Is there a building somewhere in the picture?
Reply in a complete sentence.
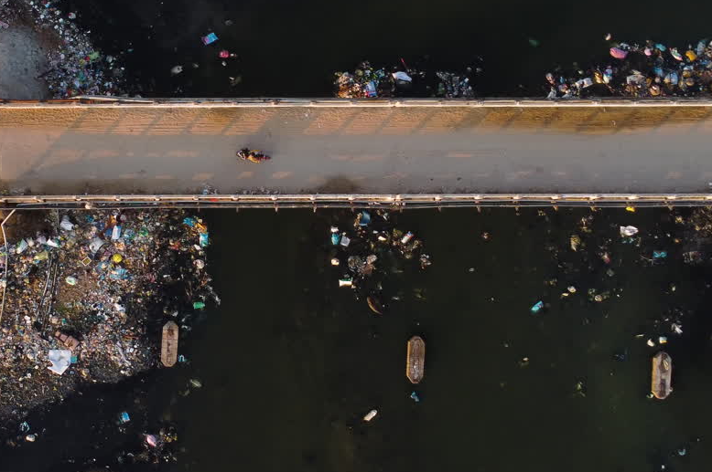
No, there isn't any building down there.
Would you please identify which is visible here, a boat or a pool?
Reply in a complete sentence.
I can see a boat in this picture.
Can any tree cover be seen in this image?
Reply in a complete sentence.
No, there is no tree cover in the image.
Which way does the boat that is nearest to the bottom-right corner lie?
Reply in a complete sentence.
The boat that is nearest to the bottom-right corner runs from top to bottom in the image.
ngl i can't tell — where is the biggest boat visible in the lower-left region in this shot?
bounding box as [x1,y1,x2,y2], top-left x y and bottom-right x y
[161,321,178,367]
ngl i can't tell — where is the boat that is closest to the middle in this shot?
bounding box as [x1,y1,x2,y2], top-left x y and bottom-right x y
[406,336,423,384]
